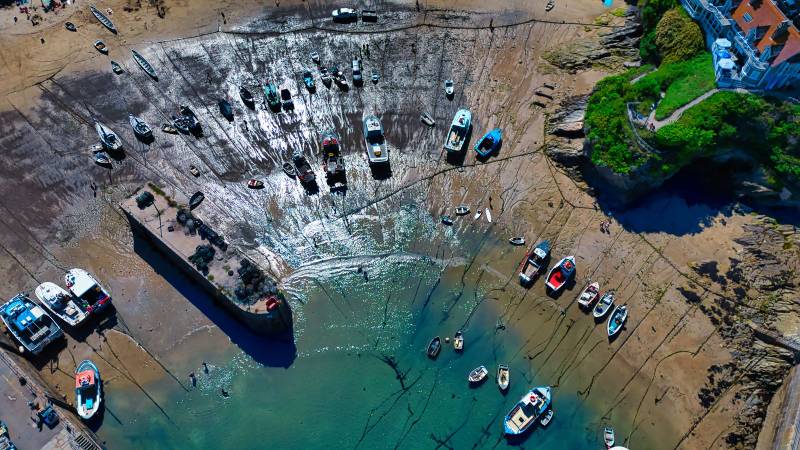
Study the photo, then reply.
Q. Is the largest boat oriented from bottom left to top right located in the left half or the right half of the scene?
right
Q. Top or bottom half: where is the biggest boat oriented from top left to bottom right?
bottom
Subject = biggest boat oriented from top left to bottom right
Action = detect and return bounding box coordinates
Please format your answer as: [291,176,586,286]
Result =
[1,293,62,360]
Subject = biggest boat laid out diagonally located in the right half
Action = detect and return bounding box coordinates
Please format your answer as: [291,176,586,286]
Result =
[501,388,550,440]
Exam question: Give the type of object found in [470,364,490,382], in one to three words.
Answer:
boat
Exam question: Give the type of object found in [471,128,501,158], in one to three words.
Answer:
boat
